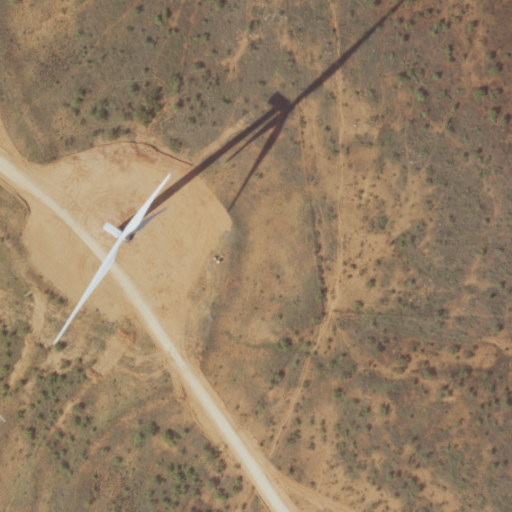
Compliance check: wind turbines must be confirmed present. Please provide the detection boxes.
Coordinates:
[54,174,169,344]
